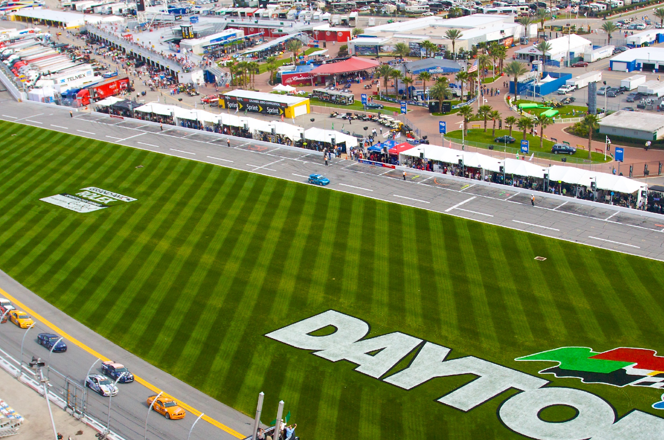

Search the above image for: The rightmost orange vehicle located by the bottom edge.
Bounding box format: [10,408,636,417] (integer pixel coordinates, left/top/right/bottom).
[148,392,187,420]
